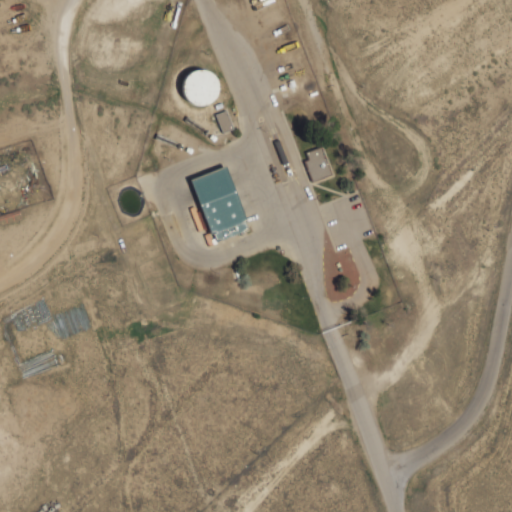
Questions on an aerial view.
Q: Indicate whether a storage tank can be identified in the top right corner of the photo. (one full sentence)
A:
No, no storage tank is visible in the top right corner of the photo.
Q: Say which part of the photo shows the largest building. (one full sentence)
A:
The largest building sits in the center section of the image.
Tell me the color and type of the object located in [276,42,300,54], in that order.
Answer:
yellow vehicle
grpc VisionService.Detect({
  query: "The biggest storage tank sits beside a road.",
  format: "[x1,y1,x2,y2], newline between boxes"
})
[183,68,221,107]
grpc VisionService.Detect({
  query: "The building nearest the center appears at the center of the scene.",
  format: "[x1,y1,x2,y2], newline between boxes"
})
[191,166,246,238]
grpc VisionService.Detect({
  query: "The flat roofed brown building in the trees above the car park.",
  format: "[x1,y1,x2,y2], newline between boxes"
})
[306,146,334,182]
